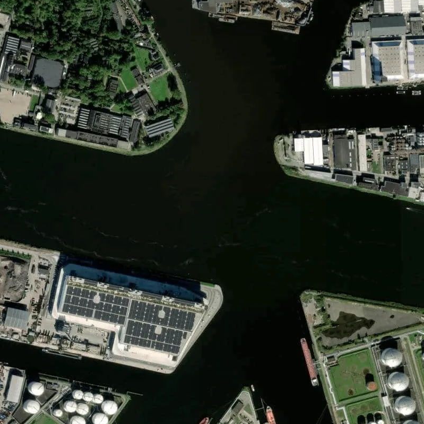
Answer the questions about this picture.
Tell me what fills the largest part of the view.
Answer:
water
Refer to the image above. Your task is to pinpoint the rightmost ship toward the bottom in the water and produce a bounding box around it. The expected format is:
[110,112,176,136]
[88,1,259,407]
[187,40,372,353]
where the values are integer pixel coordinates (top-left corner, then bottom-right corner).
[301,338,318,387]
